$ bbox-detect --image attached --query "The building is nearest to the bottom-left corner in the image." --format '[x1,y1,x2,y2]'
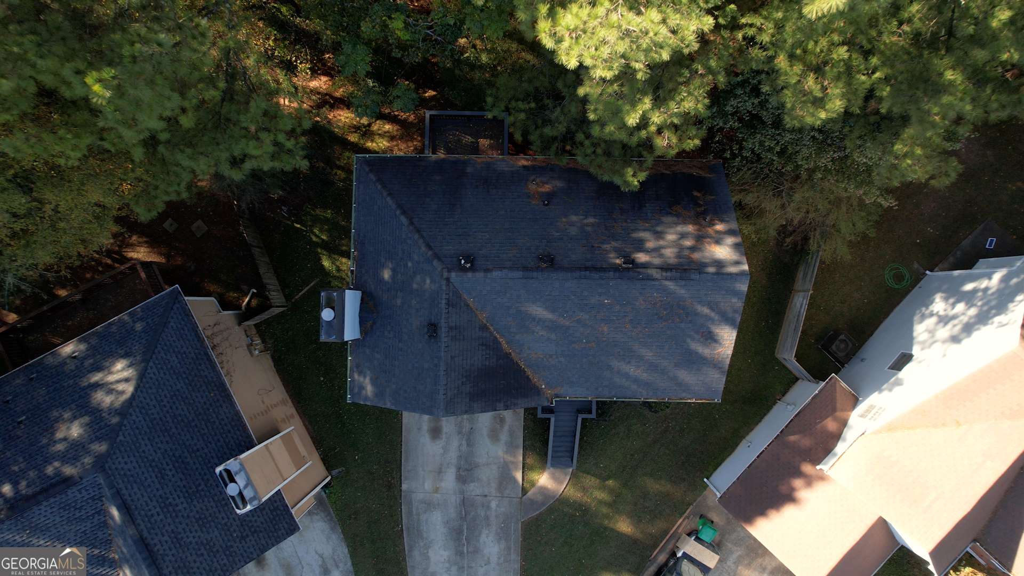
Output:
[0,285,330,576]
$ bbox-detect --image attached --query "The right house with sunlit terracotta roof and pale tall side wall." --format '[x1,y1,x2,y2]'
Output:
[695,255,1024,576]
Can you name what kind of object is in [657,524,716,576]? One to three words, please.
vehicle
